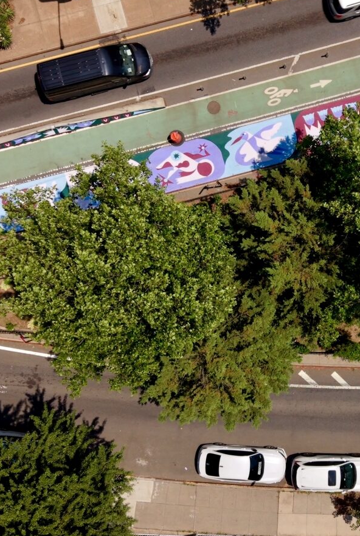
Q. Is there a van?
Yes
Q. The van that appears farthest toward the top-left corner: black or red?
black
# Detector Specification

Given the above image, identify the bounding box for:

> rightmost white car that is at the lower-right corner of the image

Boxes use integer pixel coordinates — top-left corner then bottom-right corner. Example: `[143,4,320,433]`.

[289,449,360,496]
